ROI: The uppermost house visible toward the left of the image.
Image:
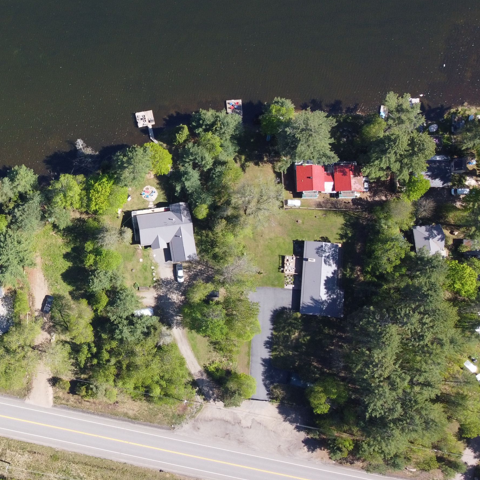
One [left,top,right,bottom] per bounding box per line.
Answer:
[136,201,199,262]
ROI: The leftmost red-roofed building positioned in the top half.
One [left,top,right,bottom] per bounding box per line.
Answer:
[294,164,325,199]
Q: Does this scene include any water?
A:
Yes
